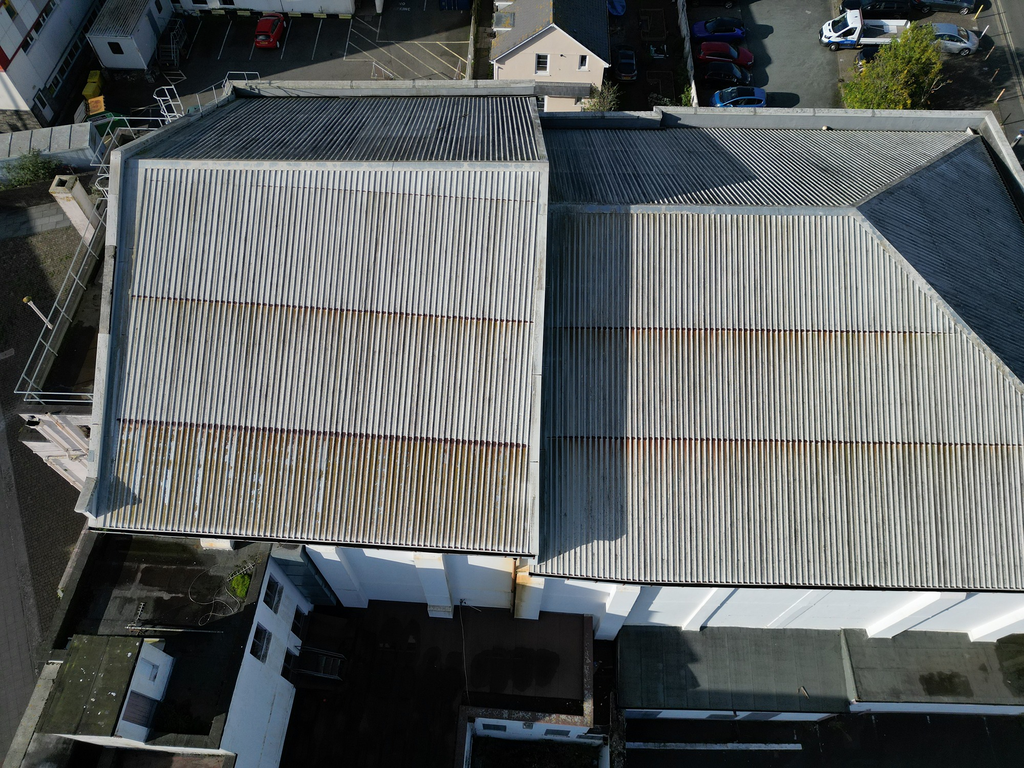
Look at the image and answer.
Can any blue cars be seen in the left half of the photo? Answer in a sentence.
No, no blue car can be made out in the left half of the photo.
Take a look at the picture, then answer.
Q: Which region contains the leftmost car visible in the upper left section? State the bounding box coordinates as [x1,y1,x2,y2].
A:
[254,17,287,52]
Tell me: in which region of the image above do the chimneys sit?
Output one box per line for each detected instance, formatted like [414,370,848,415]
[50,176,91,235]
